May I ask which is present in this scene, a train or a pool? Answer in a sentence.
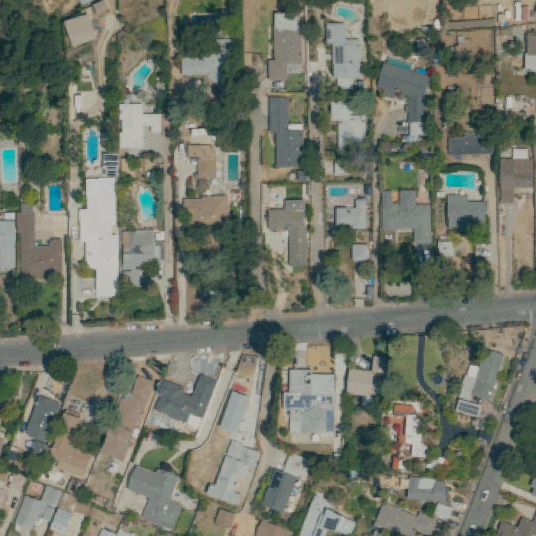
This aerial view contains a pool.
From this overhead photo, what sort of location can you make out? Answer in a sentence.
It's a residential area.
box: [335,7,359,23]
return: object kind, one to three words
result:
swimming pool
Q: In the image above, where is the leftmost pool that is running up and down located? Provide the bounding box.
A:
[1,148,19,183]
